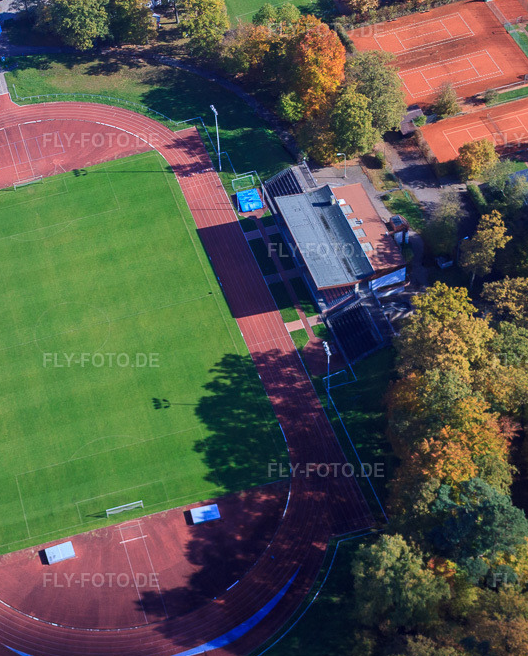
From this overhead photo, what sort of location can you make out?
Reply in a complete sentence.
This image shows a sports ground.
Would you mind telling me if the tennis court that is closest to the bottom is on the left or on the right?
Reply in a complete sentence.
The tennis court that is closest to the bottom is on the right side of the image.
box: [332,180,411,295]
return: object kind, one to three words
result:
building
